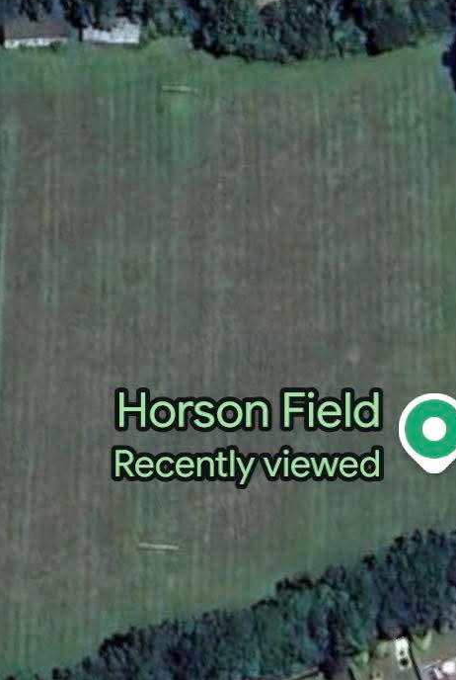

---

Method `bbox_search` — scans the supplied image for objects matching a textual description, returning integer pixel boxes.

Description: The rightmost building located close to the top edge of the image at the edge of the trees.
[82,19,139,45]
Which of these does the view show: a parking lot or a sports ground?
sports ground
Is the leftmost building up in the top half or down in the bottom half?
top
